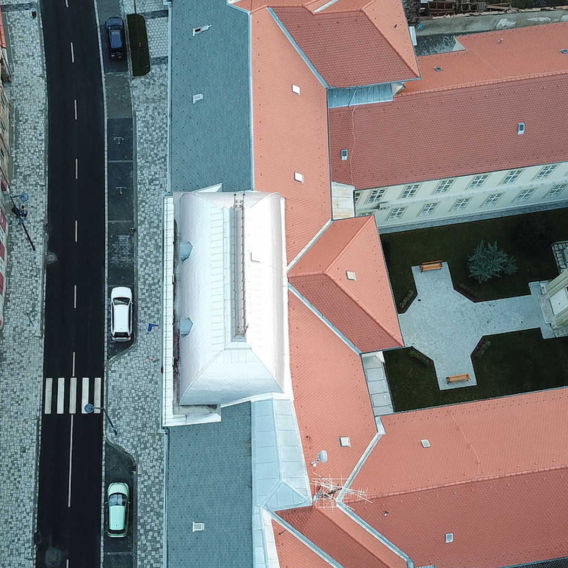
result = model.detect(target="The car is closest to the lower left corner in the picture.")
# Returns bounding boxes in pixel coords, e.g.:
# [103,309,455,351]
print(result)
[105,484,132,538]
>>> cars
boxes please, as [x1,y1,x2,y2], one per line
[105,484,132,538]
[103,18,127,60]
[108,291,134,343]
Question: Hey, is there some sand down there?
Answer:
No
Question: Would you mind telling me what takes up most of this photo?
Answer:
buildings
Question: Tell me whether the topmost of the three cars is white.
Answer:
No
